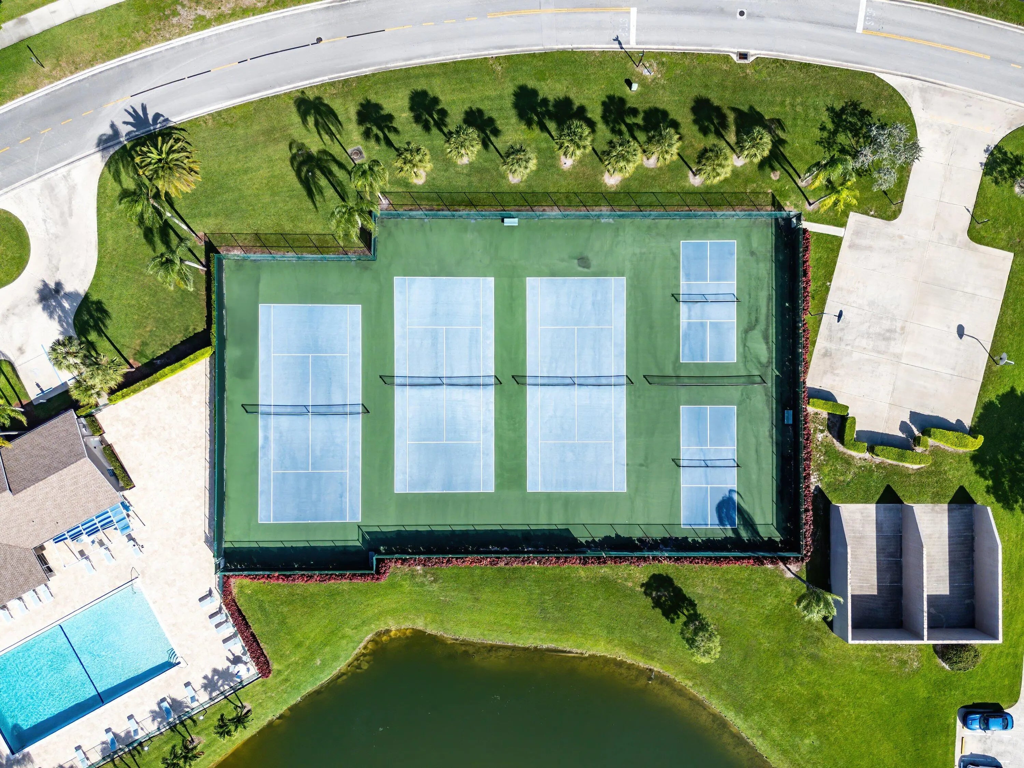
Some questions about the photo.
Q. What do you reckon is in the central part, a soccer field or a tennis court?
tennis court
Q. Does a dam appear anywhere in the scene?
No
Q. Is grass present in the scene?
Yes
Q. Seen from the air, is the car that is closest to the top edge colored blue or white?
blue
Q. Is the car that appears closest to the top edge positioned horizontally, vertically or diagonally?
horizontally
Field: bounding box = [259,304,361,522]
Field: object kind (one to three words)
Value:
tennis court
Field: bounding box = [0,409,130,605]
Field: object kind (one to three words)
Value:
building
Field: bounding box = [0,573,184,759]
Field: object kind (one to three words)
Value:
swimming pool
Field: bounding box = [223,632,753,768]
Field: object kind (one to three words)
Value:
pond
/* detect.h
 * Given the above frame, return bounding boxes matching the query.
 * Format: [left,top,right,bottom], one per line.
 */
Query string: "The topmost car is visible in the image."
[964,710,1014,733]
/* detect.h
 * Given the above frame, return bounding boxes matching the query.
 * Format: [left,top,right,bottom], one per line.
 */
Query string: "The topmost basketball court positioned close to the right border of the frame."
[811,213,1013,451]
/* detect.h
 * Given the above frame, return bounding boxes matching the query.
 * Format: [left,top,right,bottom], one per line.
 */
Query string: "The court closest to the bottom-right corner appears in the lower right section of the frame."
[831,504,1001,643]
